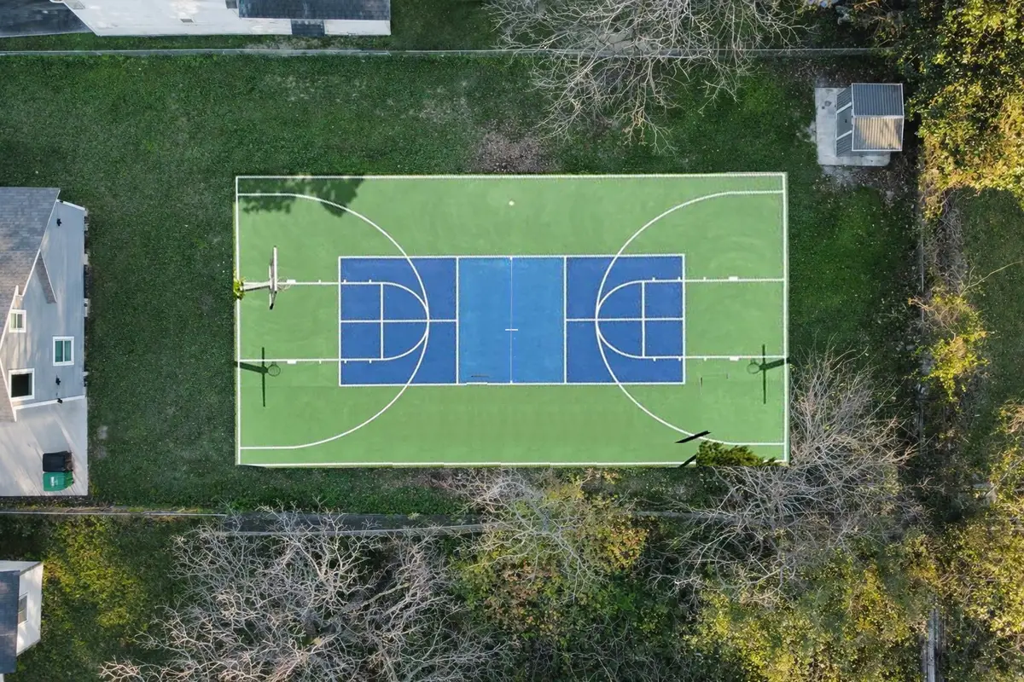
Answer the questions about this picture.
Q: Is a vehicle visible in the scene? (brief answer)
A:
No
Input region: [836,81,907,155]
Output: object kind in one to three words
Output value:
shed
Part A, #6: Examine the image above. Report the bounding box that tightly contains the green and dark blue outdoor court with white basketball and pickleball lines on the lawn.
[234,172,791,467]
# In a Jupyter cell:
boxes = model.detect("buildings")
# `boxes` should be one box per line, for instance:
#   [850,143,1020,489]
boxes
[0,187,90,422]
[836,81,907,155]
[0,561,44,676]
[70,0,391,35]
